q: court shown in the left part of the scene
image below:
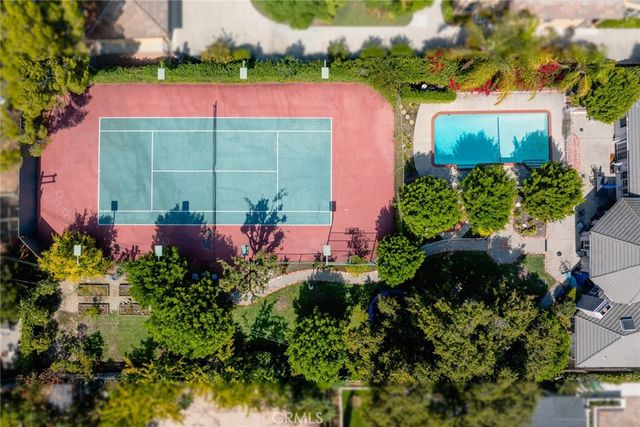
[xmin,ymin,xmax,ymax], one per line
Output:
[41,62,394,263]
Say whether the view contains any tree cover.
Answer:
Yes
